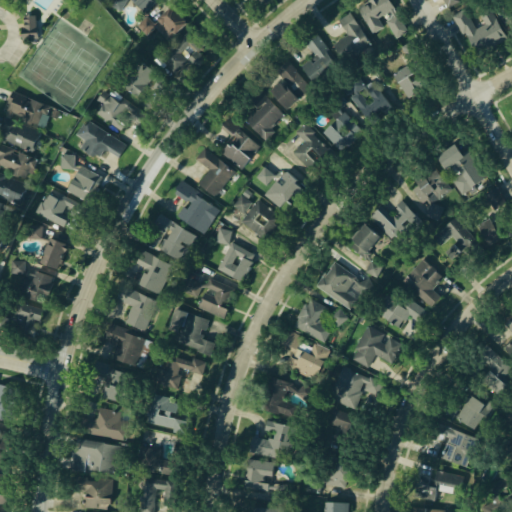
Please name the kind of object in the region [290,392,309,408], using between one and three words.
swimming pool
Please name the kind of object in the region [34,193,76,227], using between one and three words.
house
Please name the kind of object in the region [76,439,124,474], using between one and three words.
house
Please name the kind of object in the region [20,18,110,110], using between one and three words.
tennis court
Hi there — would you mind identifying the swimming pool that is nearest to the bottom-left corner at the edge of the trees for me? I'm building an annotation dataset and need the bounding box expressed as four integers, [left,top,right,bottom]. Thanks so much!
[156,431,178,460]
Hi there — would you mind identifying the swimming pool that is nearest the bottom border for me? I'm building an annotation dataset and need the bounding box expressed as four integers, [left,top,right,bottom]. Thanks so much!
[276,464,298,482]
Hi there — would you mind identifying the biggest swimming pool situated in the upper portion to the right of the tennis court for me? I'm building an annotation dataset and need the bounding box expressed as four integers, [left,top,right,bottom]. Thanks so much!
[121,4,140,28]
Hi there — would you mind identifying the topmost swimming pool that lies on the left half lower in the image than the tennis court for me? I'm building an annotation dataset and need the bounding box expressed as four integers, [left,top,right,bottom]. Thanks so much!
[51,165,76,188]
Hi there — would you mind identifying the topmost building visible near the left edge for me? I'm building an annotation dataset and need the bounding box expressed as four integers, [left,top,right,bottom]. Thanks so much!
[20,14,39,43]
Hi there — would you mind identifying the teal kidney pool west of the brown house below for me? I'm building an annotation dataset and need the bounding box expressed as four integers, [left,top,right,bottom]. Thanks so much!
[18,238,48,256]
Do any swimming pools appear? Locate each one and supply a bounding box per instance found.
[51,165,76,188]
[290,392,309,408]
[316,116,330,126]
[121,4,140,28]
[156,431,178,460]
[276,464,298,482]
[18,238,48,256]
[27,0,65,24]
